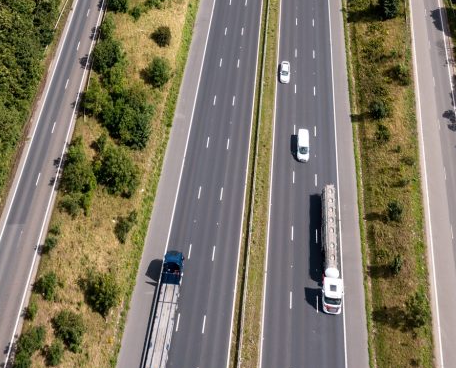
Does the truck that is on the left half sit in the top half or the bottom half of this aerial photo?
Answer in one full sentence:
The bottom half of the photo is where the truck that is on the left half is.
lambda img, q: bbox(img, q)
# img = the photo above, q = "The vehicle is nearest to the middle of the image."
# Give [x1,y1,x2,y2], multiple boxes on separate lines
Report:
[296,130,308,162]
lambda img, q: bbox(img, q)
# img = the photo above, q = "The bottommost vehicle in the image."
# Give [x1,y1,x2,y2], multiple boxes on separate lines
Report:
[146,253,186,368]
